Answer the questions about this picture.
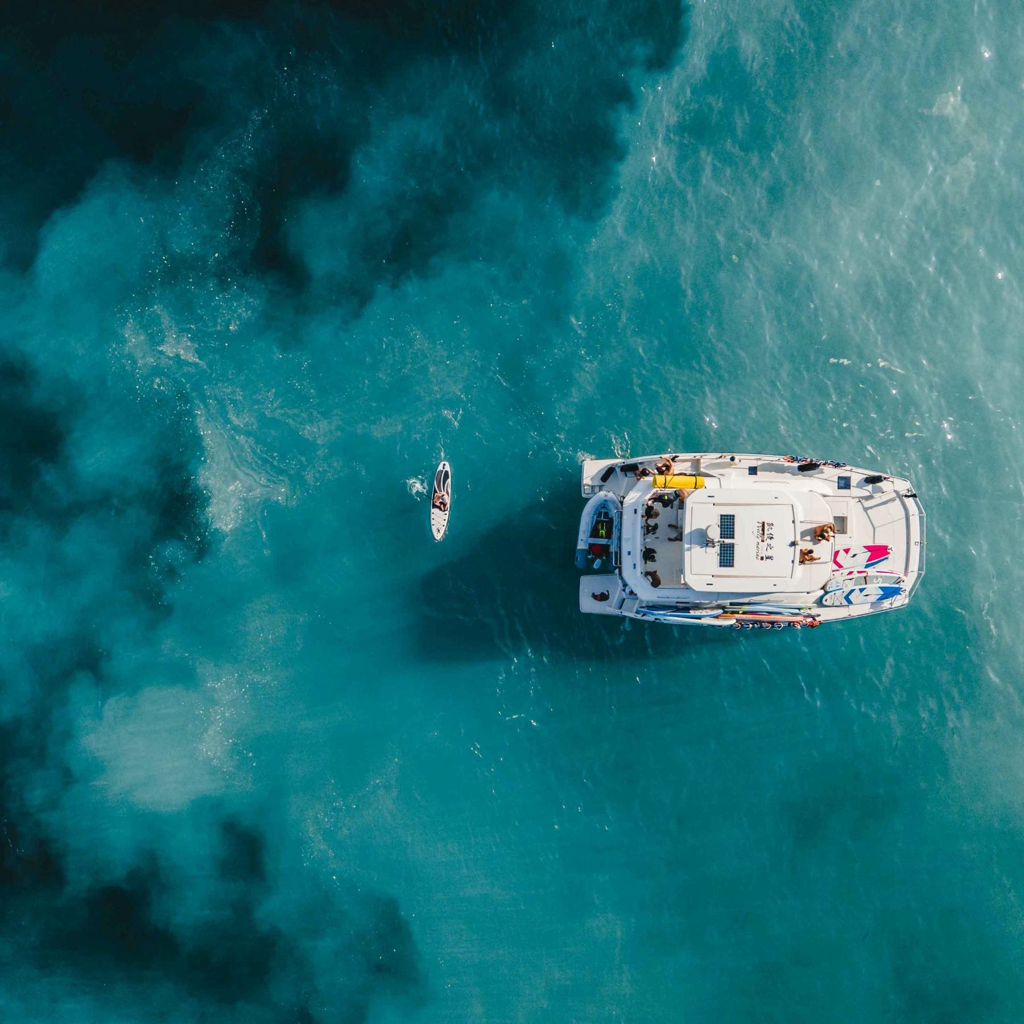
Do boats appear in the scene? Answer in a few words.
Yes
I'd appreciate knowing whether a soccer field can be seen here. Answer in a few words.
No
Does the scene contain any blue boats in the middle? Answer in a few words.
Yes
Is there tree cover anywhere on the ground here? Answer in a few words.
No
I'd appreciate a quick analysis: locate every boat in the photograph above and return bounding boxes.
[575,493,623,569]
[580,453,927,623]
